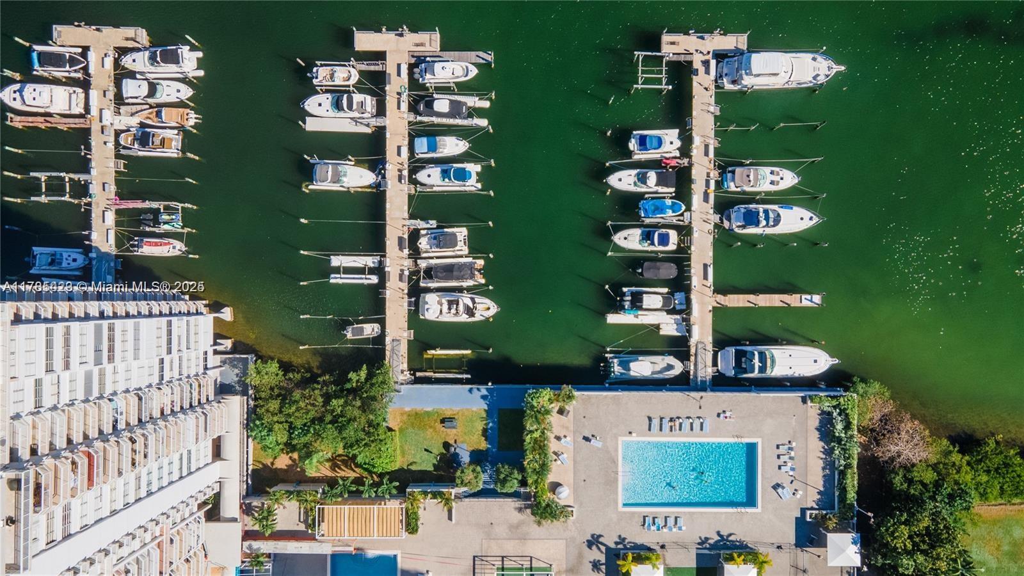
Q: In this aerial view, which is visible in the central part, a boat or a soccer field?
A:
boat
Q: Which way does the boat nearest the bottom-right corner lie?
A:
from side to side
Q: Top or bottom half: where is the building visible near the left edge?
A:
bottom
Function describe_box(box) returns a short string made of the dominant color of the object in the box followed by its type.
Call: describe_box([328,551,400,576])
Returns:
blue swimming pool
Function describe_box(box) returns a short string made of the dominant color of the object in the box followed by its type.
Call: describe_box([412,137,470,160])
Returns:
white boat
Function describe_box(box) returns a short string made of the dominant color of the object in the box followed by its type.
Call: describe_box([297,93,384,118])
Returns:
white boat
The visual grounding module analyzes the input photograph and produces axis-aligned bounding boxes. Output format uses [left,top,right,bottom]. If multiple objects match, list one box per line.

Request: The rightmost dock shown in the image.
[713,294,822,306]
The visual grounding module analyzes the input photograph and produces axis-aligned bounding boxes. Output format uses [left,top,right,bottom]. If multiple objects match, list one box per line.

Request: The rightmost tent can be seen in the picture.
[821,527,861,567]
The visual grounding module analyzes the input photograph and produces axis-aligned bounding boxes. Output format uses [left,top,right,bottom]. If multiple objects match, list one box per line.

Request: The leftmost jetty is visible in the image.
[8,114,91,128]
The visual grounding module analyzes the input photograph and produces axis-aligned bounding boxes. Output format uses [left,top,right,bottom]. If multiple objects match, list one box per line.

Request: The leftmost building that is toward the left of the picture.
[0,284,230,576]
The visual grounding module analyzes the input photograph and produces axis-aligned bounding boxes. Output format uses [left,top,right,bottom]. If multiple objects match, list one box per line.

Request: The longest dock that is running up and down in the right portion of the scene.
[661,32,748,384]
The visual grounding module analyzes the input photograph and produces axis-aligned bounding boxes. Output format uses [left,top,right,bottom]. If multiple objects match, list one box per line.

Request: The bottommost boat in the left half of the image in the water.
[340,324,382,339]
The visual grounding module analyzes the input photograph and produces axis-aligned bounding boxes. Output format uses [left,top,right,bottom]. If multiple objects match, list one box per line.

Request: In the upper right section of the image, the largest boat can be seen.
[715,52,848,94]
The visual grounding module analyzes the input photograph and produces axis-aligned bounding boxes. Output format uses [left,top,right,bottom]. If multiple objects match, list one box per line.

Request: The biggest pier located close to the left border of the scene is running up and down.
[50,24,147,289]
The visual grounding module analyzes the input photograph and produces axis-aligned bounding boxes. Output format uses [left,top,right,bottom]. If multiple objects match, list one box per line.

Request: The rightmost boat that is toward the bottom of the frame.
[716,346,843,377]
